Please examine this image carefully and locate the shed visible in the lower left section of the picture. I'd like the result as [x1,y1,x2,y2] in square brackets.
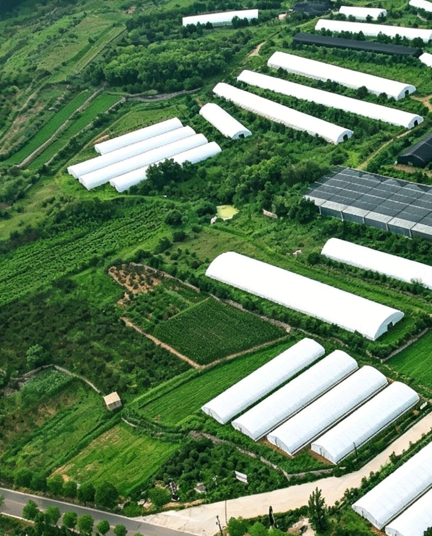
[100,387,121,411]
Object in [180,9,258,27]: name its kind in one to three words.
greenhouse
